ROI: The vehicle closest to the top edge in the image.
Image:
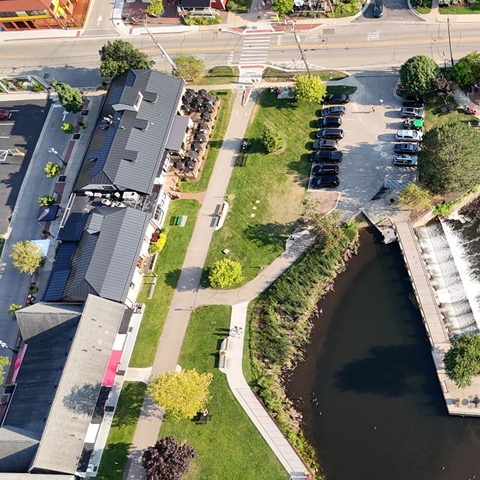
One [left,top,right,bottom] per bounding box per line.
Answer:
[370,0,383,16]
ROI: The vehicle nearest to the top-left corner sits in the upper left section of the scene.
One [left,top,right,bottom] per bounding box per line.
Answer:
[0,108,13,121]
